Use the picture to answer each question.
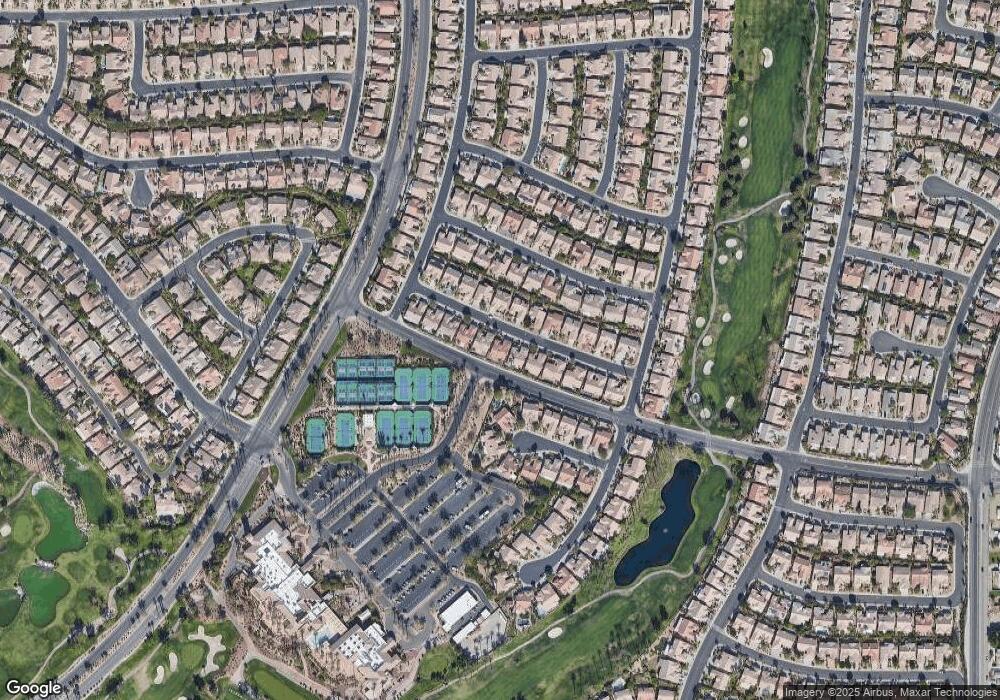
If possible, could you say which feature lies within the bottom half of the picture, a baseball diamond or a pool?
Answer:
pool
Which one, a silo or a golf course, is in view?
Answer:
golf course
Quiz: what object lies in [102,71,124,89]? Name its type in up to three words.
house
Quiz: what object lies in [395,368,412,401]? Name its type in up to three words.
tennis court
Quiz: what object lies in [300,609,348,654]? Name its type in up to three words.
swimming pool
